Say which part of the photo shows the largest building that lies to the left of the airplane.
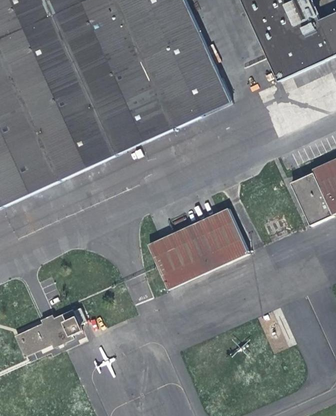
bottom left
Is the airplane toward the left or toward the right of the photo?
left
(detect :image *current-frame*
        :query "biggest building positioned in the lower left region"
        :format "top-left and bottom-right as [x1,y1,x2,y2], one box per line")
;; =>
[16,314,88,362]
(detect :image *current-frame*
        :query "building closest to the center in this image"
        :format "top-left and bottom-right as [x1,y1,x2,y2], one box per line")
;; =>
[148,208,249,292]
